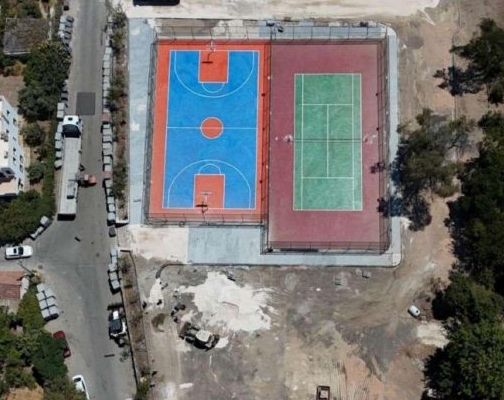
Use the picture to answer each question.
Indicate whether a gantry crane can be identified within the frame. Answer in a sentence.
No, there's no gantry crane here.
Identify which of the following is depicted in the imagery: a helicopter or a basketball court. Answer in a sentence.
The image shows a basketball court.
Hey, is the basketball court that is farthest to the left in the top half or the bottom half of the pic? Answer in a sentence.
You can find the basketball court that is farthest to the left in the top half.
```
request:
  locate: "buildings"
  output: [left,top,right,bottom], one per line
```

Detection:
[0,94,24,200]
[0,271,33,315]
[4,17,50,60]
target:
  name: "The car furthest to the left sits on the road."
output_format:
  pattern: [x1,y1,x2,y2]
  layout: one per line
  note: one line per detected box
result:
[5,245,34,259]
